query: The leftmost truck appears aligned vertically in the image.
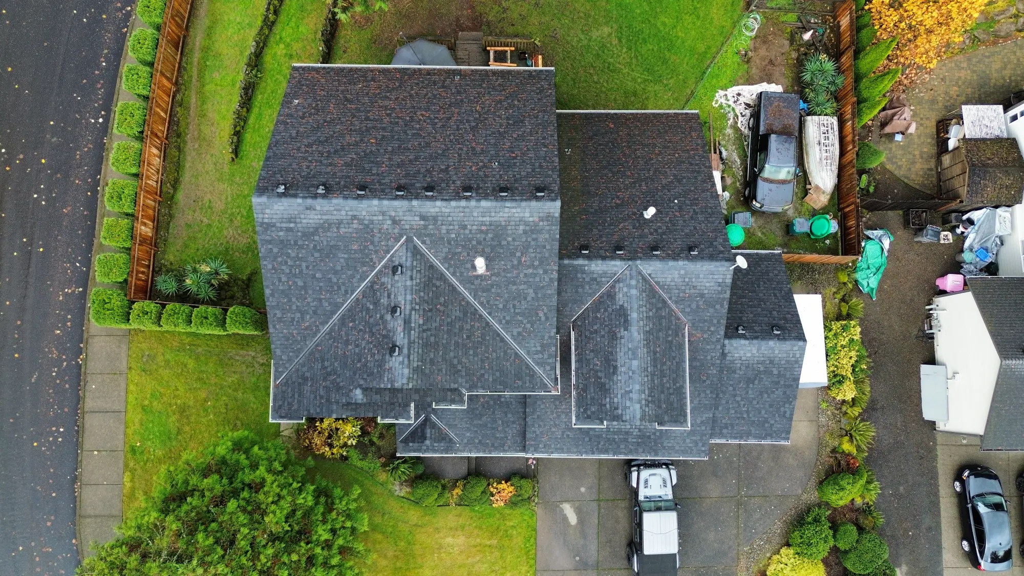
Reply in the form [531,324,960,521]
[624,459,681,576]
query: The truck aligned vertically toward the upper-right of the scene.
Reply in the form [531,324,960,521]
[742,98,797,215]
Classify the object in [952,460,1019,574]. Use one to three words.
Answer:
car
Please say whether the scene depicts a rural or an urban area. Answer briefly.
urban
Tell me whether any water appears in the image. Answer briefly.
No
